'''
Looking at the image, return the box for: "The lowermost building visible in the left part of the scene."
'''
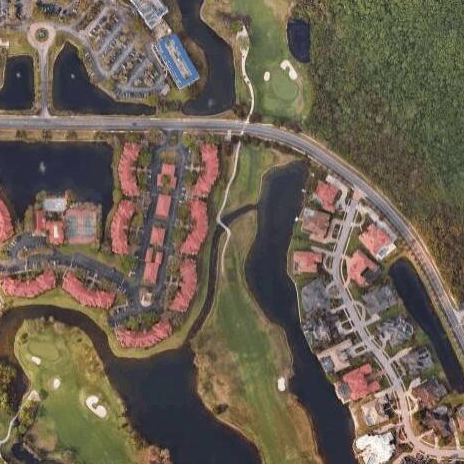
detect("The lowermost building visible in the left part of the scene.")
[111,315,175,348]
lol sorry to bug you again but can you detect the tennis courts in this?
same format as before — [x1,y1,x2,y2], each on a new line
[81,209,96,243]
[67,209,82,243]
